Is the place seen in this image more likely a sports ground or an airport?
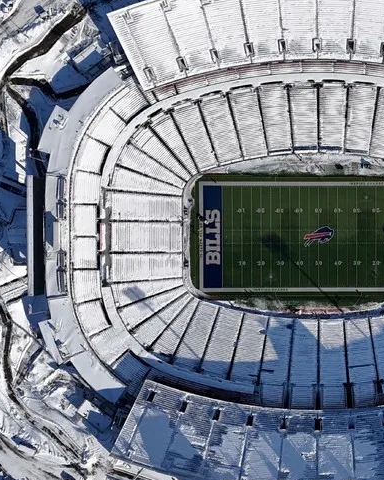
sports ground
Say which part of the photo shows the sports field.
right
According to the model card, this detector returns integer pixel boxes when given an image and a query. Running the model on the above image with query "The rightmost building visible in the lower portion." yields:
[78,398,114,426]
